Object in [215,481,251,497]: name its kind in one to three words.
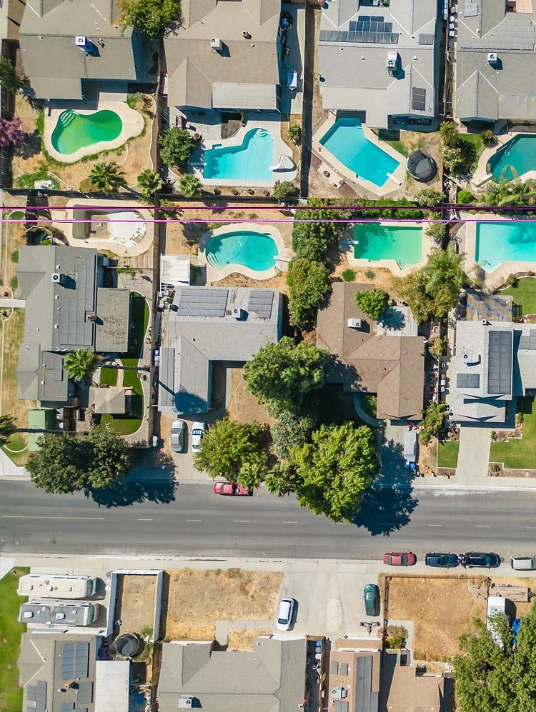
vehicle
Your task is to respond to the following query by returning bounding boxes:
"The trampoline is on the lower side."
[110,628,144,662]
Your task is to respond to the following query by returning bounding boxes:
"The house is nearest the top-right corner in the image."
[455,0,536,125]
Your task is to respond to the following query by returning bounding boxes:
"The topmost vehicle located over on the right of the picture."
[402,429,419,463]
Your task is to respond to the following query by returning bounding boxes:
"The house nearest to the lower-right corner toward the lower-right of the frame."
[385,662,443,712]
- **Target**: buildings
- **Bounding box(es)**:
[27,409,61,452]
[317,281,428,421]
[13,629,137,712]
[12,244,137,402]
[314,0,436,133]
[328,635,383,712]
[448,318,536,424]
[20,0,143,105]
[159,285,285,414]
[385,662,443,712]
[151,632,311,712]
[455,0,536,125]
[162,0,284,114]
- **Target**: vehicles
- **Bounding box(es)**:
[510,554,536,570]
[402,429,419,463]
[15,574,99,600]
[463,552,499,569]
[425,551,460,569]
[215,481,251,497]
[18,599,102,625]
[171,420,187,452]
[192,421,206,454]
[383,551,417,566]
[276,597,295,631]
[362,582,379,617]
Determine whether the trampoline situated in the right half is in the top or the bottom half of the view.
top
